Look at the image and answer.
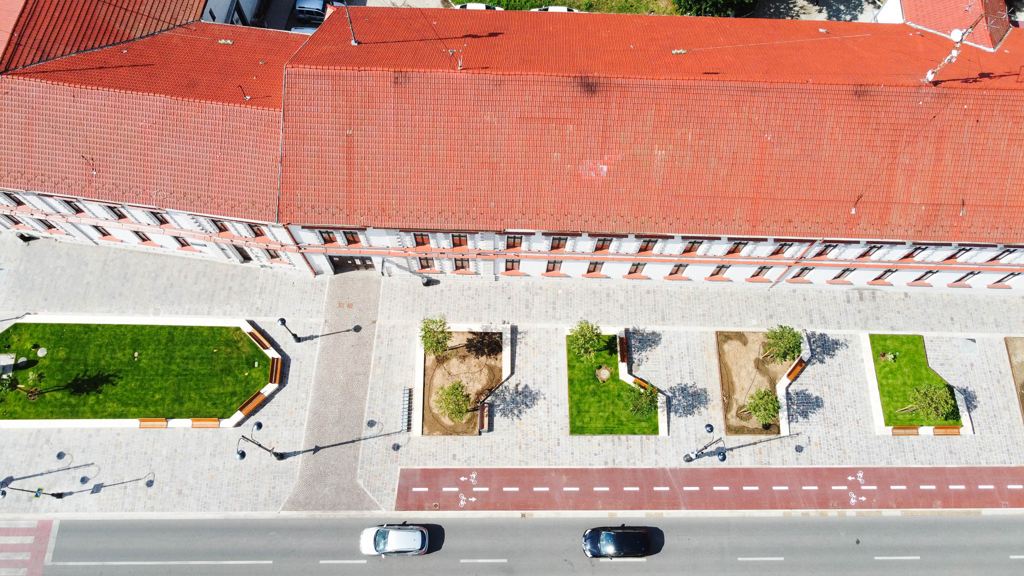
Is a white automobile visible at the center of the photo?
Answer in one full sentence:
No, there's no white automobile to be seen at the center of the photo.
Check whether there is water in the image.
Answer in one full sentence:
No, there's no water in this view.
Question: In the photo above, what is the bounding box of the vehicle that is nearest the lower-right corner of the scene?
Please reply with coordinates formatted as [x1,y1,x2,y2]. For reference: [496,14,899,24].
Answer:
[580,524,649,561]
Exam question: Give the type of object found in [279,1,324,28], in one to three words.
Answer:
car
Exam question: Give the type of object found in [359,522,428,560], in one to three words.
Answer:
car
